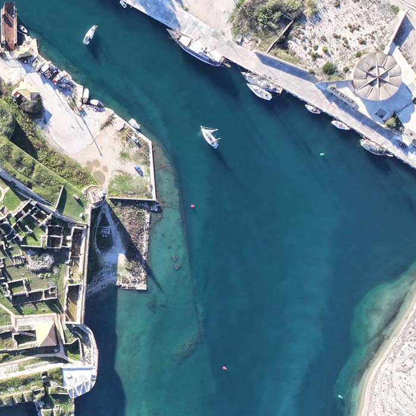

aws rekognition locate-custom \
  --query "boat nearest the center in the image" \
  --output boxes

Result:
[200,126,220,151]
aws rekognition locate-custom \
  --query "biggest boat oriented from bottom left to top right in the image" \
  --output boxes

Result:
[83,25,97,45]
